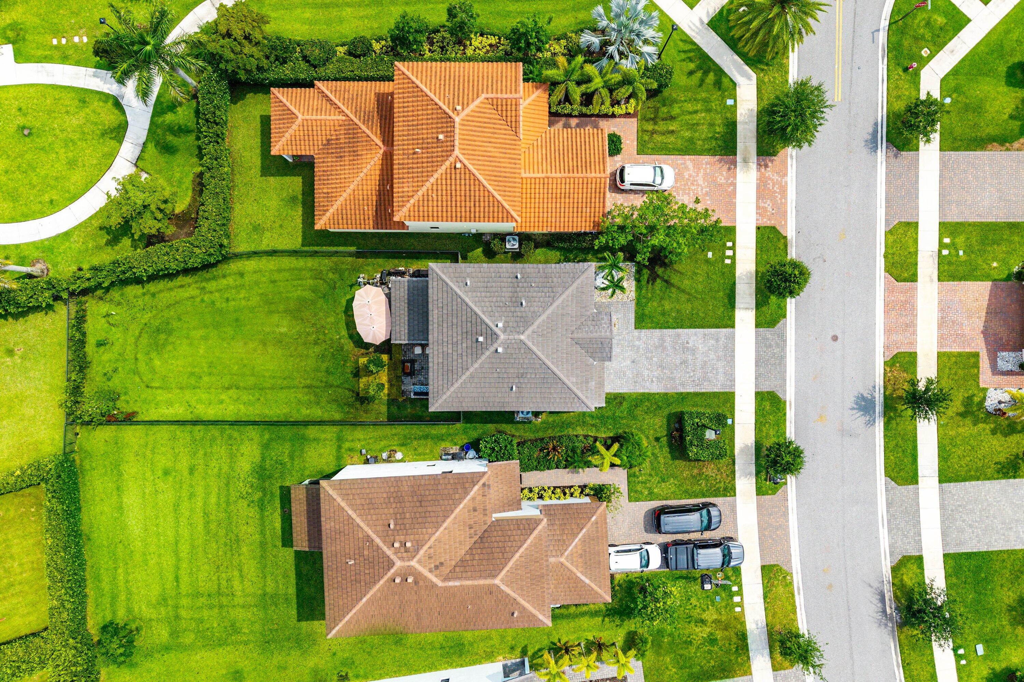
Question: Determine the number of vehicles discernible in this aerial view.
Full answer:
Looking from above, you can make out 4 vehicles.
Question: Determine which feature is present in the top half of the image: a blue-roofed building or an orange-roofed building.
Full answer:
The feature located in the top half of the image is an orange-roofed building.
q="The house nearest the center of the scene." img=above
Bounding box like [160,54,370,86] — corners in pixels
[391,262,615,412]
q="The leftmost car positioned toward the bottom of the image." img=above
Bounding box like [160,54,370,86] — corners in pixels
[609,540,661,574]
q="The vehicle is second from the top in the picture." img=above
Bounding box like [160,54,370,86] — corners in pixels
[651,502,721,536]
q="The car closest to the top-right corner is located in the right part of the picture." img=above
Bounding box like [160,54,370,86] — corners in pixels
[615,159,675,191]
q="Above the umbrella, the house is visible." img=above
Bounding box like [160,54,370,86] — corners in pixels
[269,59,613,233]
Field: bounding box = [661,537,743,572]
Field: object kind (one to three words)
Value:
truck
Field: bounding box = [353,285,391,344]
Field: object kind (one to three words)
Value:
umbrella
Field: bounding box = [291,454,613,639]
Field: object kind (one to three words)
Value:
house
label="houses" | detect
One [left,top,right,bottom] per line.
[391,262,615,412]
[377,663,504,682]
[291,454,613,639]
[269,59,613,233]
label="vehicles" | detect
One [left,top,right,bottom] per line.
[661,537,743,572]
[651,502,721,536]
[615,159,675,191]
[609,540,661,574]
